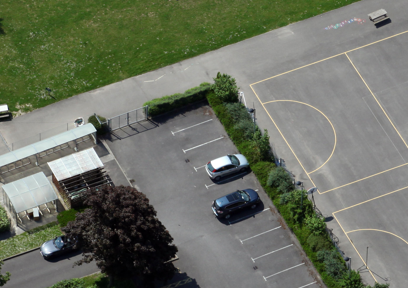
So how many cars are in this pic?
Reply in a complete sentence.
Altogether the scene contains 3 cars.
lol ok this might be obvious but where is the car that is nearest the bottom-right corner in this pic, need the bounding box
[211,188,261,220]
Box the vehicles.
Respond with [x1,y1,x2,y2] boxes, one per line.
[204,153,249,180]
[42,229,86,257]
[211,188,261,220]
